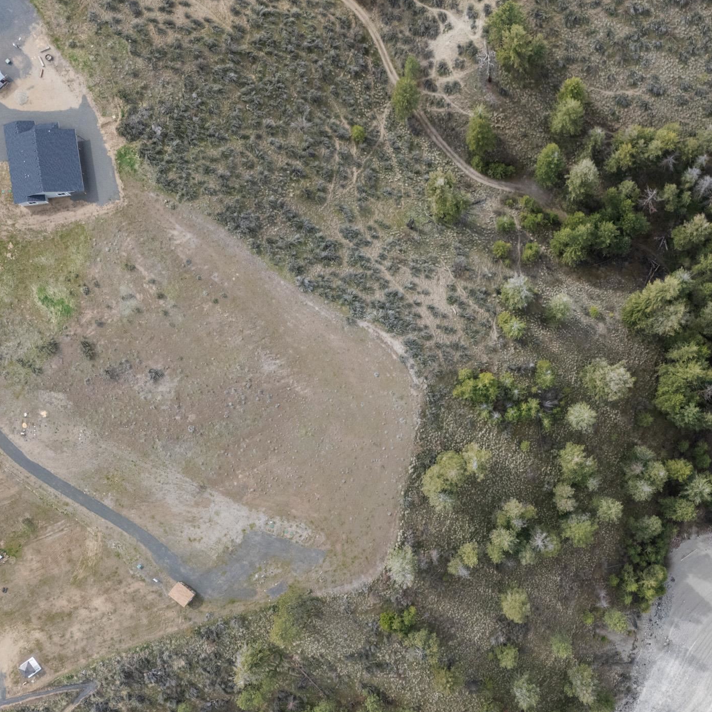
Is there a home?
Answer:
Yes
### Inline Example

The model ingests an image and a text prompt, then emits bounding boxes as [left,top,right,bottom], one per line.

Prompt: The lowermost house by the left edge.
[4,121,90,207]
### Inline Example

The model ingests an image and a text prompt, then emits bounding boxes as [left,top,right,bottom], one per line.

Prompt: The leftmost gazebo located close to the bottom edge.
[19,656,43,677]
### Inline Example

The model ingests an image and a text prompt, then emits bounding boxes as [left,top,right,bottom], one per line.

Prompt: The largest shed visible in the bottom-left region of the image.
[169,581,198,607]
